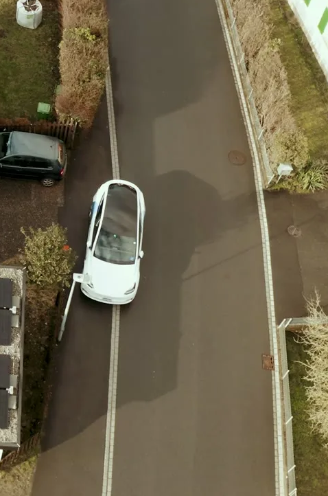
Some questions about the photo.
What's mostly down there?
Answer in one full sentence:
Most of the picture is covered by paved ground.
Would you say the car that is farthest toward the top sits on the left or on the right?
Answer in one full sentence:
The car that is farthest toward the top is on the left side of the image.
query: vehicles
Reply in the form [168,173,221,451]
[0,136,66,190]
[79,181,146,307]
